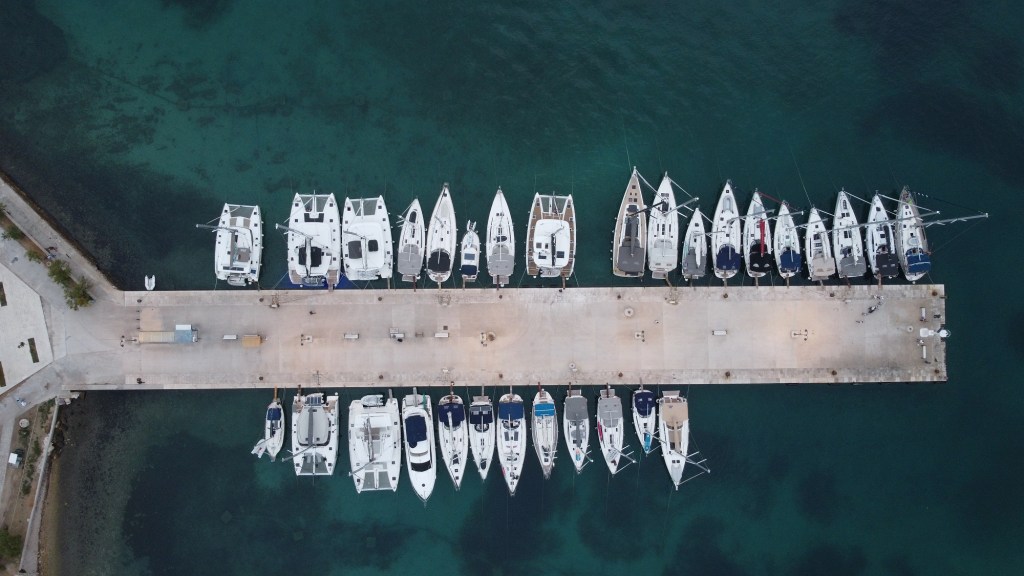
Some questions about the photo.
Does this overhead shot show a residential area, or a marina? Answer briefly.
marina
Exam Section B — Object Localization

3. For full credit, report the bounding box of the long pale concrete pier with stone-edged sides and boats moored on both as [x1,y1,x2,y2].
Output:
[123,284,946,389]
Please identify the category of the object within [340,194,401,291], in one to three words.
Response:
boat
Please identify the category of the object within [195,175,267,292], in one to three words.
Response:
boat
